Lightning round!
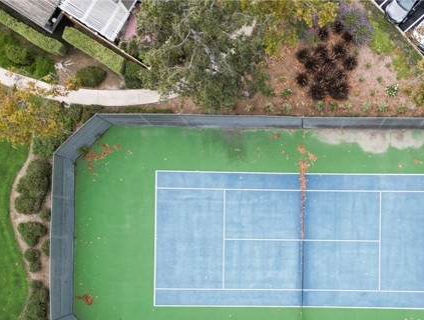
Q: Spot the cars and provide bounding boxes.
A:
[410,16,424,52]
[385,0,424,24]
